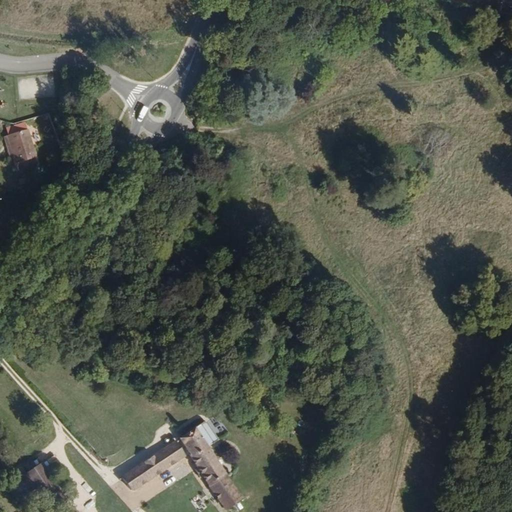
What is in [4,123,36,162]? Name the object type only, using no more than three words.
house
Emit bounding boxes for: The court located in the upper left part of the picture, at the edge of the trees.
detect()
[18,76,55,100]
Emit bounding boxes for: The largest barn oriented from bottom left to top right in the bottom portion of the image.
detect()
[122,440,189,492]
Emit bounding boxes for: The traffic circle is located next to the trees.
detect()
[134,86,184,136]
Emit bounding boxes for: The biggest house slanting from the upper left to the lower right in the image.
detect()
[180,421,245,510]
